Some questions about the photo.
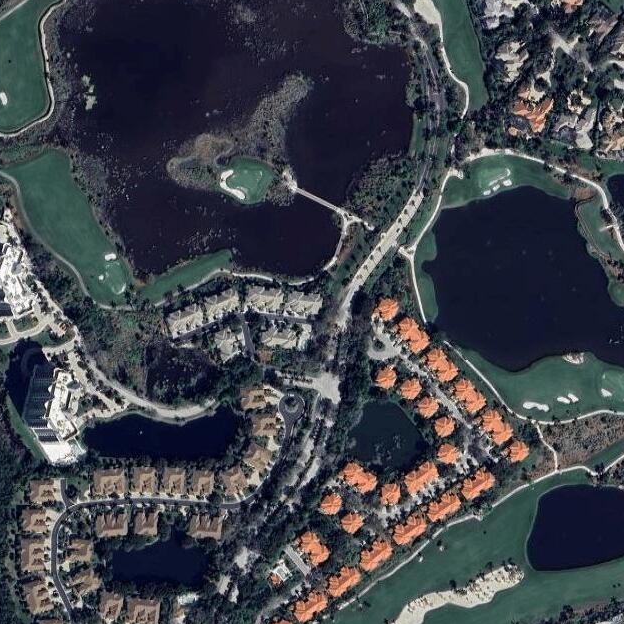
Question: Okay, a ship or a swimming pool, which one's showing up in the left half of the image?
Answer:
swimming pool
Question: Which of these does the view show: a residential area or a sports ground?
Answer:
residential area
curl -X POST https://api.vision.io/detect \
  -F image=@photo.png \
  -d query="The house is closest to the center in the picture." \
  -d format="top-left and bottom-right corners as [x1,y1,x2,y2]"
[283,293,322,314]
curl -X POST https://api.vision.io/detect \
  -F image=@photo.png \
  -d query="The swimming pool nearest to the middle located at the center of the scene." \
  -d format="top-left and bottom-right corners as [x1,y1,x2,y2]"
[298,328,312,350]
